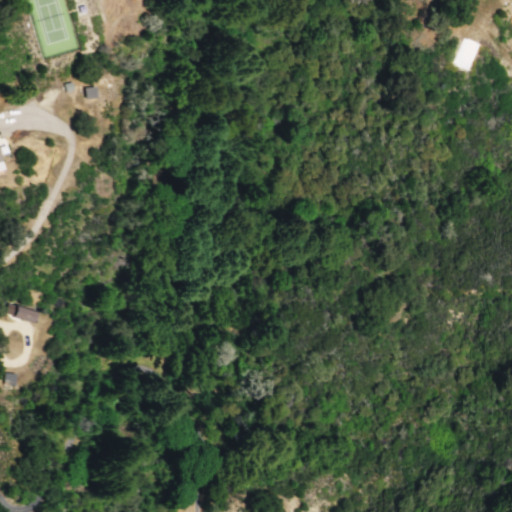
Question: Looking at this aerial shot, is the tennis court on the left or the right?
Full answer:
You can find the tennis court on the left side of the picture.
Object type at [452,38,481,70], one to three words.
building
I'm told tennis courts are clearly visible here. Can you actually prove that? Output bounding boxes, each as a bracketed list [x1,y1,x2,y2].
[28,0,78,58]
